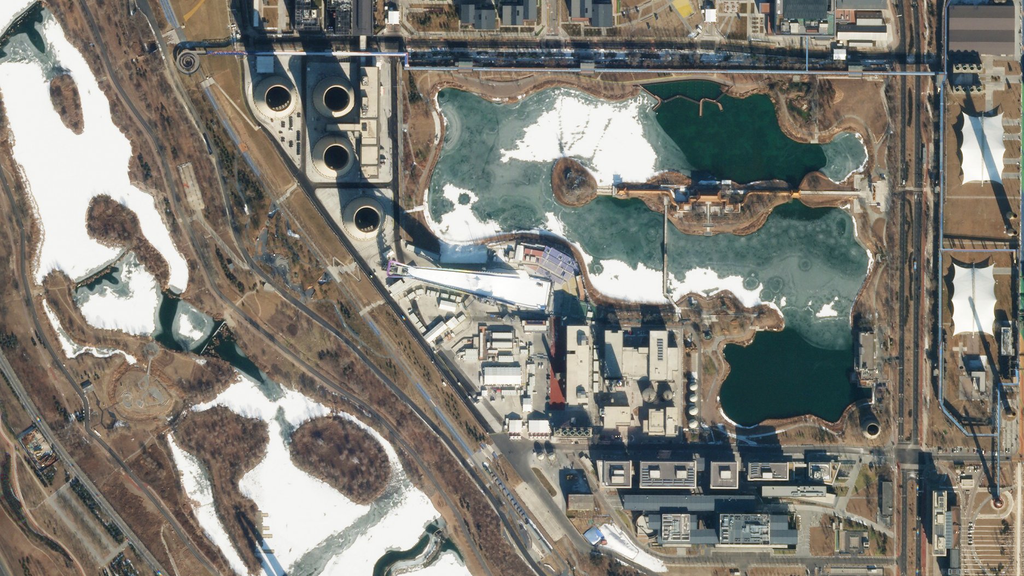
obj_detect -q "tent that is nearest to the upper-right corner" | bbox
[959,111,1006,187]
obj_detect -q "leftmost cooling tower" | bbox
[252,75,299,121]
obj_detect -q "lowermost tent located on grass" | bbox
[952,263,997,339]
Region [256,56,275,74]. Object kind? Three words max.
shed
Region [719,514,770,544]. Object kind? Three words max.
building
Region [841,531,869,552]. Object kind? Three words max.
house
